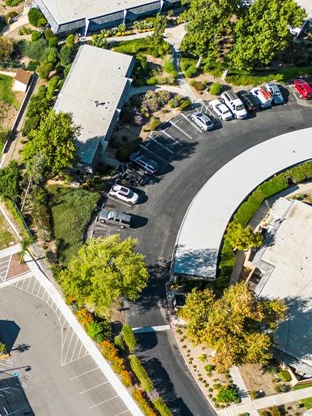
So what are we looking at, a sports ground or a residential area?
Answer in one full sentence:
What you see here is a residential area.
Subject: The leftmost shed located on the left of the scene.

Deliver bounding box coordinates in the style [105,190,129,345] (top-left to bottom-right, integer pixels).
[11,68,35,91]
